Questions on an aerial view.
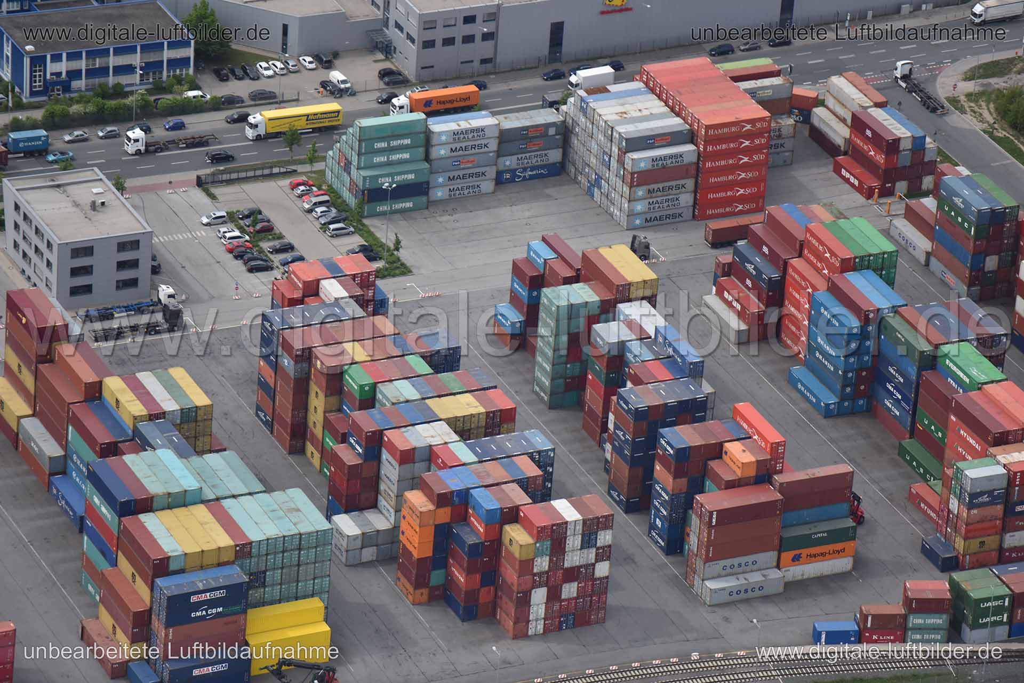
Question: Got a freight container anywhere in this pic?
Yes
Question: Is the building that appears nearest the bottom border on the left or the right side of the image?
left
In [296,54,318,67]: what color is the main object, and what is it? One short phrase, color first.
white vehicle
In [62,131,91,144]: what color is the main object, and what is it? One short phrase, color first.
gray vehicle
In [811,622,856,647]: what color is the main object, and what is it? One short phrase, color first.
blue shipping container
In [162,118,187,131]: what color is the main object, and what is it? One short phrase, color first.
blue vehicle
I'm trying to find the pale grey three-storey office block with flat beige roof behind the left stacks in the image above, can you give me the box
[4,167,153,312]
